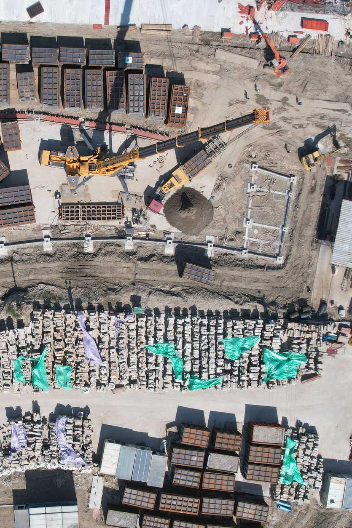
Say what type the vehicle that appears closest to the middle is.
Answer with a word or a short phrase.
truck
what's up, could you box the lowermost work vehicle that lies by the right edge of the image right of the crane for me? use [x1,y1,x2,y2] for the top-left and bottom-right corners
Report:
[297,148,348,173]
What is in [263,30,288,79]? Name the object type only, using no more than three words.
work vehicle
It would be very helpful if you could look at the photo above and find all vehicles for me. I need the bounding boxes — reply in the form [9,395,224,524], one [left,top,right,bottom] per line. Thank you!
[263,30,288,79]
[146,137,227,215]
[297,148,348,173]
